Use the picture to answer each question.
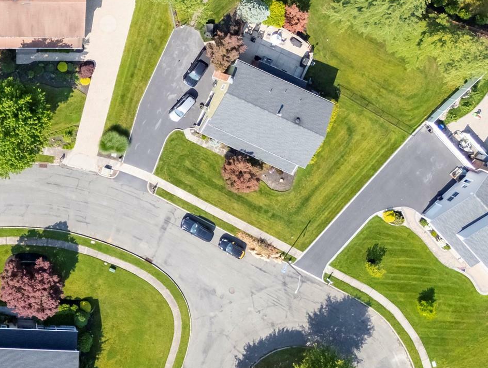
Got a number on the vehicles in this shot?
4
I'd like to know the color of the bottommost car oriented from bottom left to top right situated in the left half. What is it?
white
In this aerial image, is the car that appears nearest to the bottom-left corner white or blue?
blue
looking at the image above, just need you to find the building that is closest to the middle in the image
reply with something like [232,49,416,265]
[196,59,335,175]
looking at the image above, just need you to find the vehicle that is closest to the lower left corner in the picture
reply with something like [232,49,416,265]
[178,216,216,243]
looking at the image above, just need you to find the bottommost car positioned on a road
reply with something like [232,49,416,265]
[216,236,246,259]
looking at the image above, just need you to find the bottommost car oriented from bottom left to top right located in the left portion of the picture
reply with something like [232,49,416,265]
[168,90,199,123]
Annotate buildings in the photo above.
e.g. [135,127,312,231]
[0,318,80,368]
[196,59,335,175]
[0,0,86,54]
[422,157,488,278]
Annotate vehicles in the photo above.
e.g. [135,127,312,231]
[216,236,246,259]
[182,55,210,89]
[168,90,199,123]
[178,216,216,243]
